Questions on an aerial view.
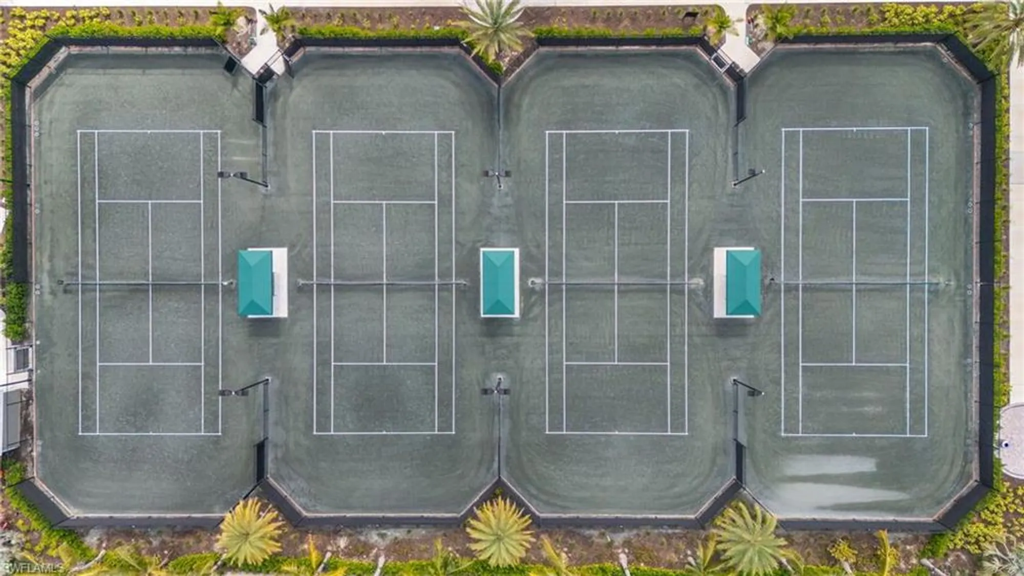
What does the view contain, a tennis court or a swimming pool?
tennis court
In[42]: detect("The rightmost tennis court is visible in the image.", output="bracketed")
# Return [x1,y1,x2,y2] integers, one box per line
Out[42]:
[734,38,981,525]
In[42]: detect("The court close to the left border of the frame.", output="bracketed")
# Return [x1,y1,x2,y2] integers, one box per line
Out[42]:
[24,40,269,519]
